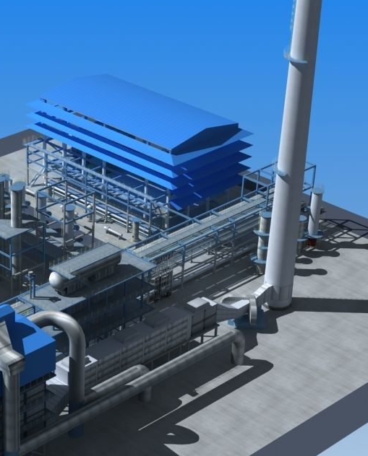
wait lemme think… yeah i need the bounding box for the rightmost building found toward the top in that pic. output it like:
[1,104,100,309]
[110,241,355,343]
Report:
[26,73,252,230]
